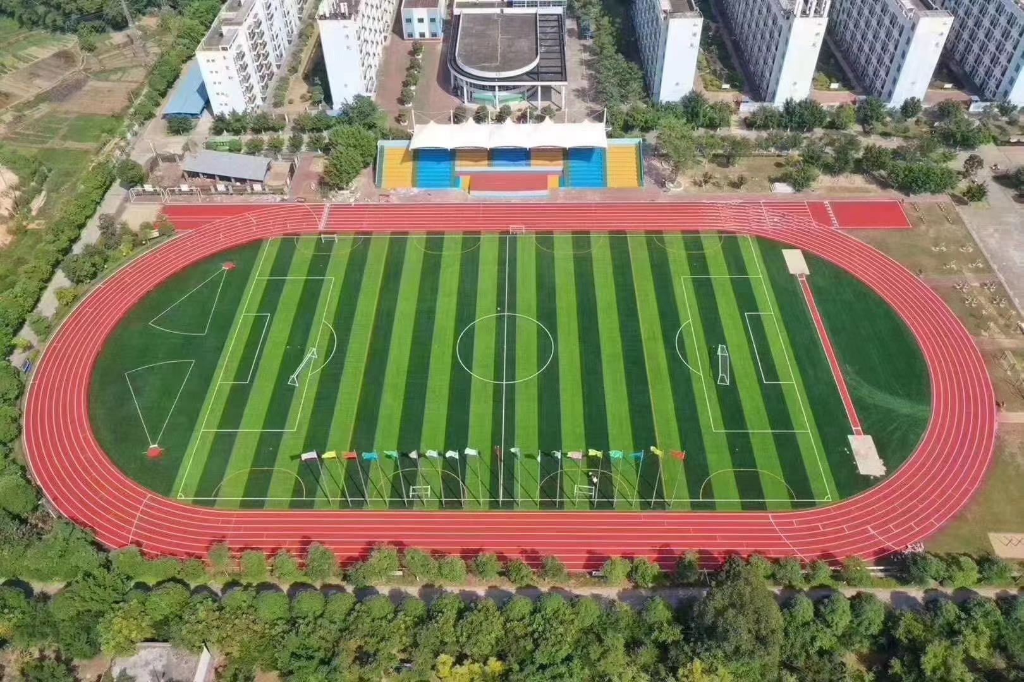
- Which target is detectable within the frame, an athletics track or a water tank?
athletics track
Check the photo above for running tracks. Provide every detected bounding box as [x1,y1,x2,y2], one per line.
[24,200,994,570]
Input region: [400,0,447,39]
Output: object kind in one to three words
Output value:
building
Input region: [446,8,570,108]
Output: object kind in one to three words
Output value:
building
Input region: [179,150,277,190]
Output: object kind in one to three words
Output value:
shed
